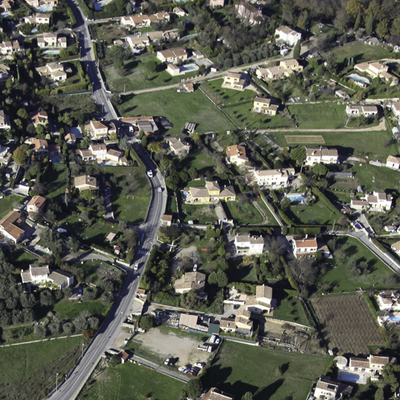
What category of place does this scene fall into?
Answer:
residential area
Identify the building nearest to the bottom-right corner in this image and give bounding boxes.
[346,353,388,377]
